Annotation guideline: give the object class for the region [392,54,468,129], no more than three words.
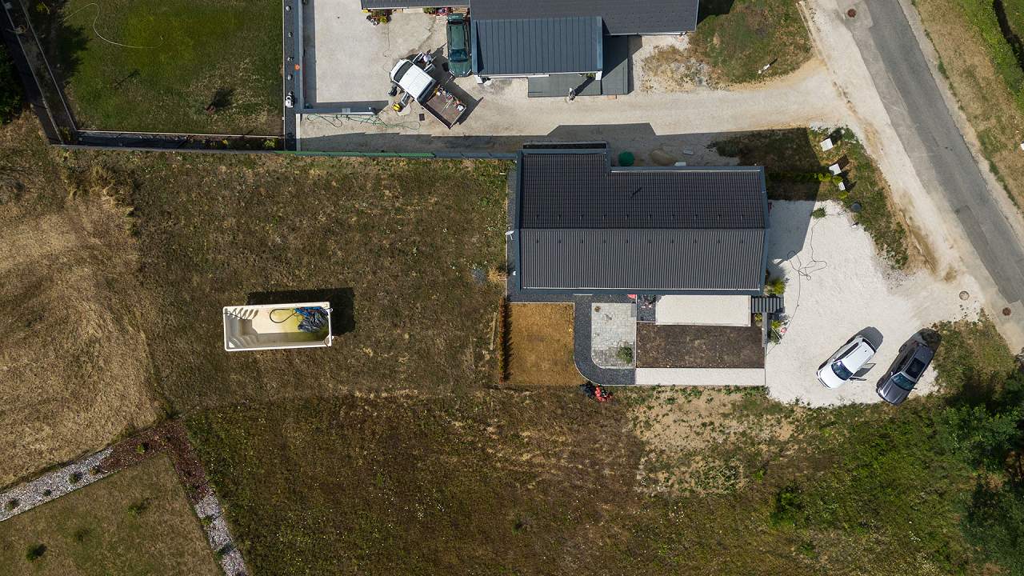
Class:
truck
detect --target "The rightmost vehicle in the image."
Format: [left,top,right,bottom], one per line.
[875,339,934,401]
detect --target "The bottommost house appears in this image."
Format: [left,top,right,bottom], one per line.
[514,142,770,294]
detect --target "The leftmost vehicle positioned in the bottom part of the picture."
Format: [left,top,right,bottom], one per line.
[814,334,873,386]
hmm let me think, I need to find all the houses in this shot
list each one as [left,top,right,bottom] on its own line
[467,0,703,85]
[514,142,770,294]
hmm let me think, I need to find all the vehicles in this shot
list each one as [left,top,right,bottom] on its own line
[875,339,934,401]
[444,14,472,83]
[392,54,468,129]
[814,334,873,386]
